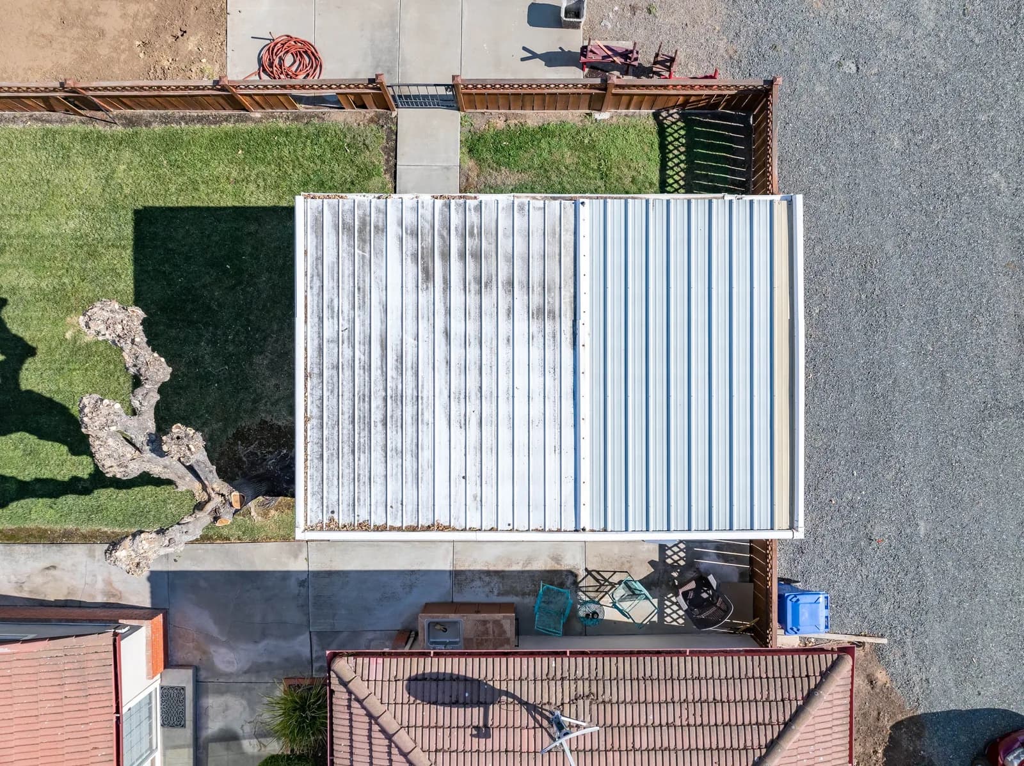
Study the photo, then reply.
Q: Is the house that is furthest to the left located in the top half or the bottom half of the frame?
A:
bottom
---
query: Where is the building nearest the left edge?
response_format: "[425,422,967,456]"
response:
[0,607,167,766]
